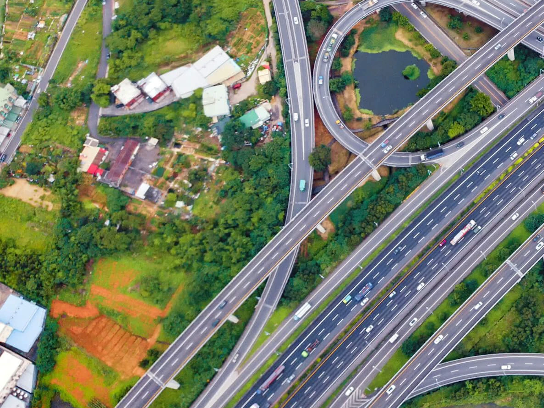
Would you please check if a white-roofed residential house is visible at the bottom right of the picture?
No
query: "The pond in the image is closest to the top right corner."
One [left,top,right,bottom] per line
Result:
[352,51,435,116]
